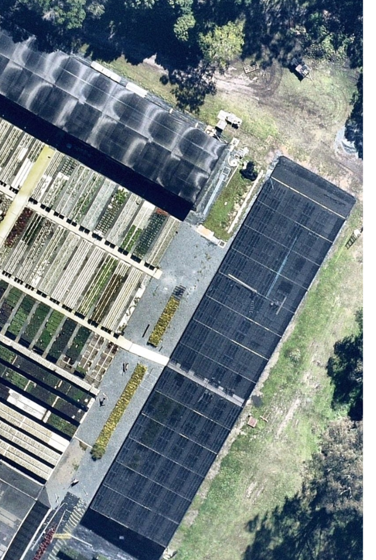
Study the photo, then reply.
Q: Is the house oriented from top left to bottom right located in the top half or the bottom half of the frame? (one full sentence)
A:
Seen from above, the house oriented from top left to bottom right lies in the top half of the view.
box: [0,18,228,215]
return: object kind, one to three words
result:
house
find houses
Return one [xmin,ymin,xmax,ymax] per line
[0,460,50,560]
[89,165,352,551]
[0,18,228,215]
